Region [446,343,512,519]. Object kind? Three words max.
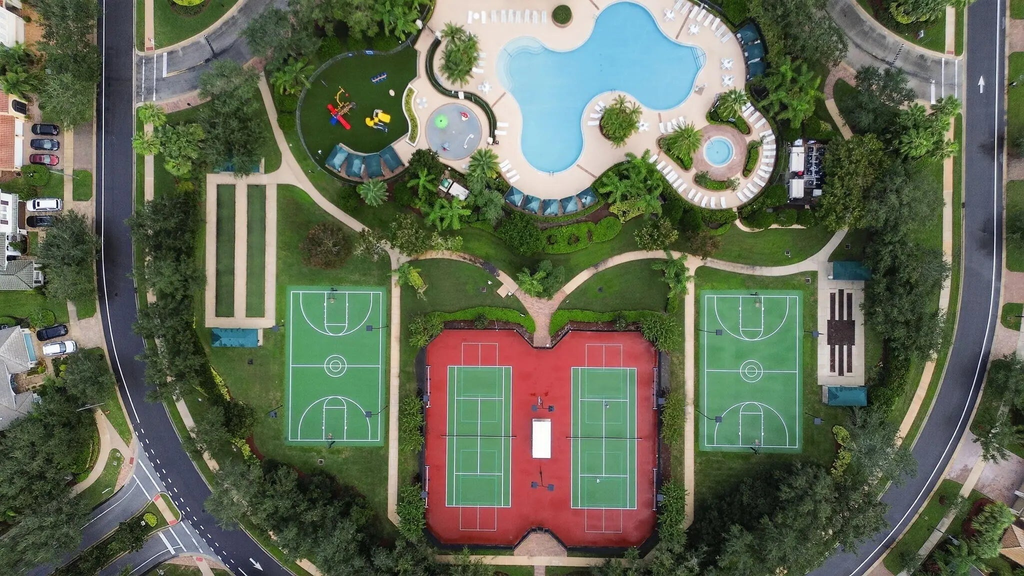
tennis court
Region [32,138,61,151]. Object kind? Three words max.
vehicle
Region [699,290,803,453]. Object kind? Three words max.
basketball court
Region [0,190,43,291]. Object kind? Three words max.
house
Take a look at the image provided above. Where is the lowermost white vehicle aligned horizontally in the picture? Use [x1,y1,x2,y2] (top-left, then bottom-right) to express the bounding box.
[43,340,78,354]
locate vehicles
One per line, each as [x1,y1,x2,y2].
[32,138,61,151]
[29,198,63,212]
[36,325,69,340]
[28,215,54,228]
[32,123,61,136]
[43,340,78,354]
[31,153,61,166]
